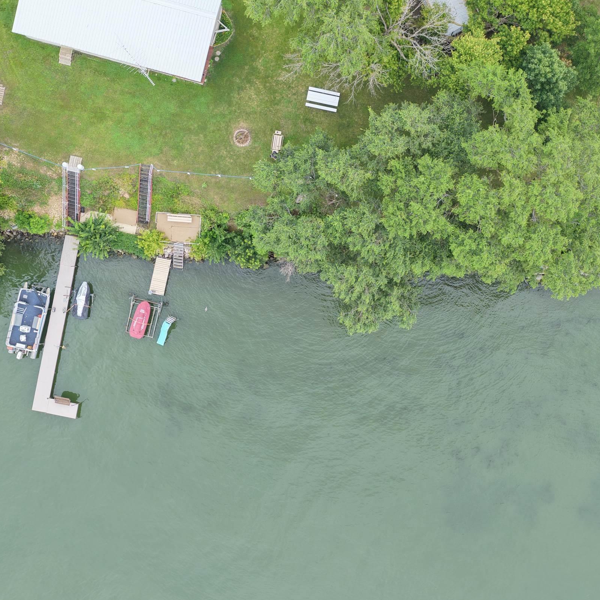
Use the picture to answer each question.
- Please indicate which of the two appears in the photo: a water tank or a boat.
boat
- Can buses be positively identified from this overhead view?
No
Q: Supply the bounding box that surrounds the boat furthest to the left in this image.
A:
[4,281,53,358]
